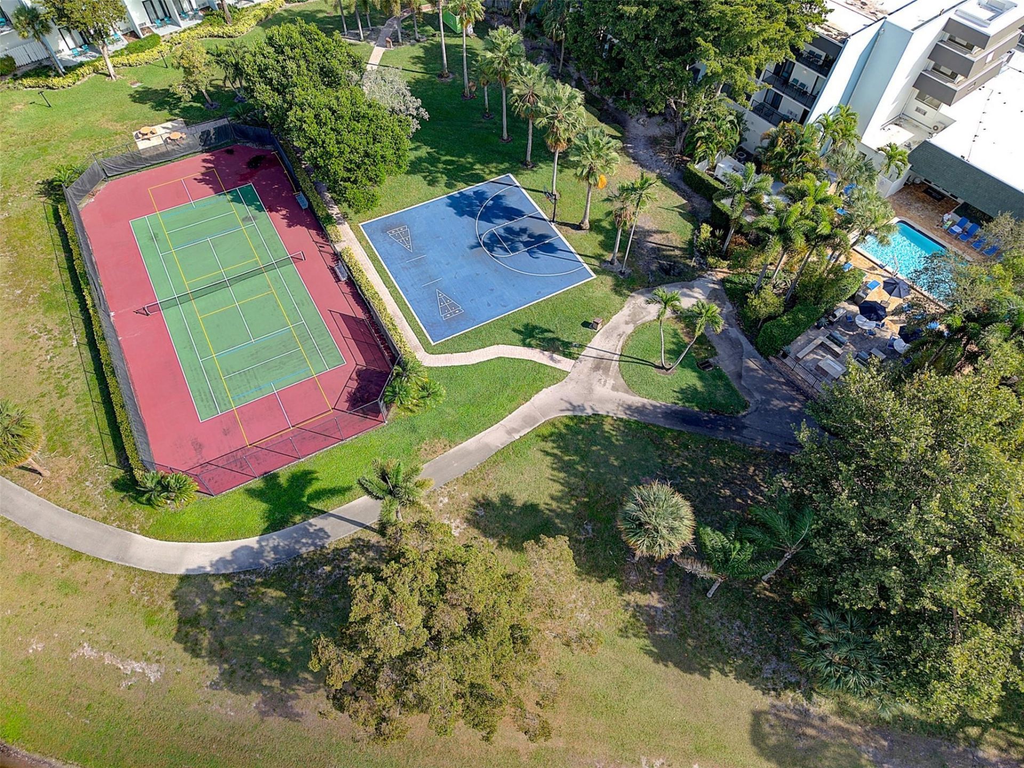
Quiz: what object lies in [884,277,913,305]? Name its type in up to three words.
umbrella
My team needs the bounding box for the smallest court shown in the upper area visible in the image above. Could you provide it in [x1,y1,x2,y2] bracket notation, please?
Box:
[359,174,596,344]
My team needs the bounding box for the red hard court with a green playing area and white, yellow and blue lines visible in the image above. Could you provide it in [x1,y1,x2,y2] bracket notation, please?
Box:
[80,144,397,496]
